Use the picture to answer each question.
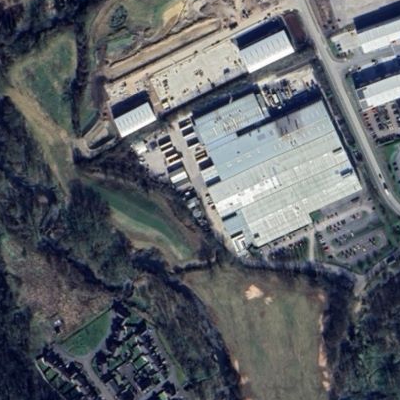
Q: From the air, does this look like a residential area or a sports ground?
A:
residential area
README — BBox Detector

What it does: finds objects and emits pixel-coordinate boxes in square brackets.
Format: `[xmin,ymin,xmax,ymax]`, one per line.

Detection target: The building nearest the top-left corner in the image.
[114,102,157,136]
